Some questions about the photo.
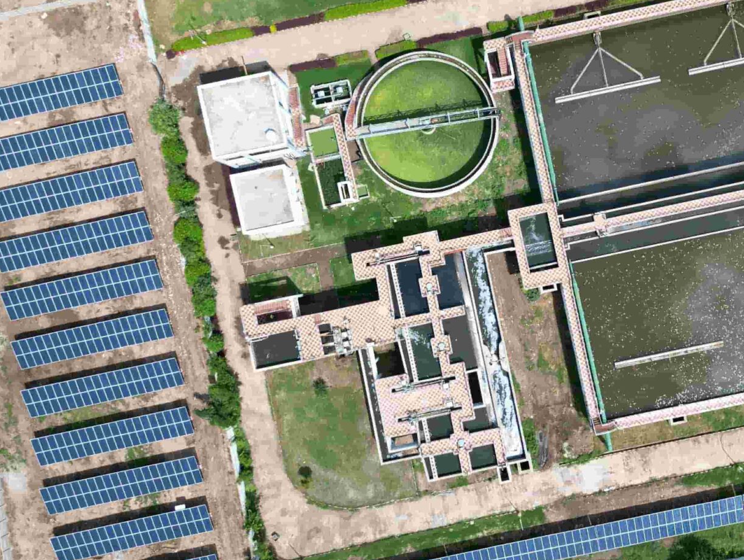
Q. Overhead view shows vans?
No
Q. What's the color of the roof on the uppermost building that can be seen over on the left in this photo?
white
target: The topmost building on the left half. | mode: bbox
[197,71,304,168]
